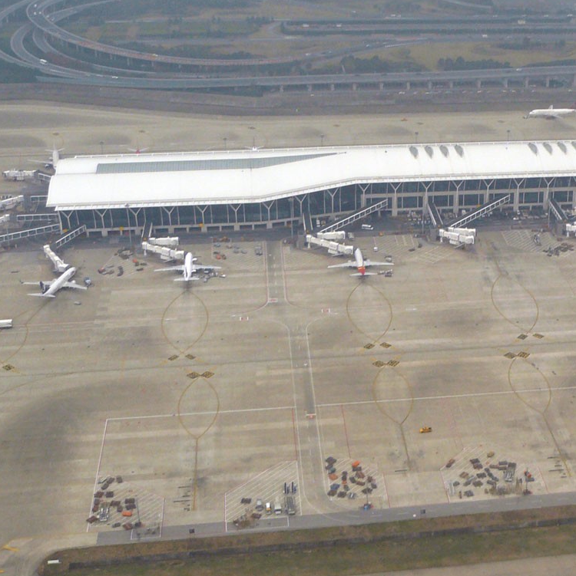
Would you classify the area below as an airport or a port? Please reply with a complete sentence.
This looks like an airport.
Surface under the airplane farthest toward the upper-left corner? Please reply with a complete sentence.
In this view, the airplane farthest toward the upper-left corner is located on the apron.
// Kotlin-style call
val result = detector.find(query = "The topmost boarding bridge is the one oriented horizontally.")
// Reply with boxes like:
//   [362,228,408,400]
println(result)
[0,166,54,191]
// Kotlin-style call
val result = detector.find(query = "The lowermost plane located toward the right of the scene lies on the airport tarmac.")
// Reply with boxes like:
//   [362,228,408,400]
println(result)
[327,248,394,277]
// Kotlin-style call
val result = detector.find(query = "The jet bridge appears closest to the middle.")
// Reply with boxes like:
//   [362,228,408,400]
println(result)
[294,202,387,259]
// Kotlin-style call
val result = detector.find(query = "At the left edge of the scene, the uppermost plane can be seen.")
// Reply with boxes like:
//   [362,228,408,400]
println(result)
[26,138,63,170]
